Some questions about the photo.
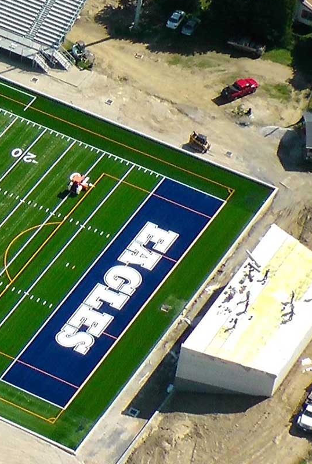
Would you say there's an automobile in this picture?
Yes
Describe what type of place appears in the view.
sports ground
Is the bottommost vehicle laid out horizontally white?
No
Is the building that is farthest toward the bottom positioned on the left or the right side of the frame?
right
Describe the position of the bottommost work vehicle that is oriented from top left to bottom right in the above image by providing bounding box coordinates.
[70,171,99,200]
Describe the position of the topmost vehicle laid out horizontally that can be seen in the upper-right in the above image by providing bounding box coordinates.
[225,33,272,59]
